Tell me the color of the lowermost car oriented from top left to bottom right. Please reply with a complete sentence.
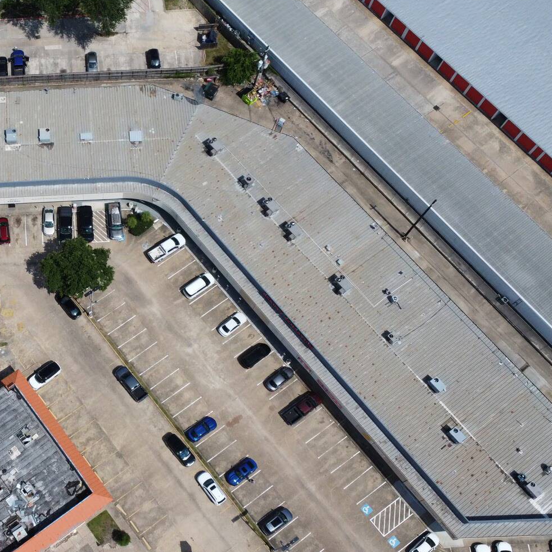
The lowermost car oriented from top left to bottom right looks white in the image.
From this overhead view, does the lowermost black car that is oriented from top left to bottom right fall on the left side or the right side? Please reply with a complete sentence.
The lowermost black car that is oriented from top left to bottom right sits on the left side.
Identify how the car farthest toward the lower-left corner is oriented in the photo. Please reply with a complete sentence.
In this picture, the car farthest toward the lower-left corner is oriented at an angle.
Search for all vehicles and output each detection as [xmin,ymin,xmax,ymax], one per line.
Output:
[226,458,257,486]
[57,293,81,319]
[0,218,10,245]
[29,362,62,389]
[181,273,214,298]
[112,365,150,404]
[281,393,322,424]
[147,234,185,262]
[196,471,226,506]
[406,532,440,552]
[185,417,216,442]
[473,545,489,552]
[85,52,97,72]
[42,208,54,236]
[494,543,512,552]
[164,433,194,465]
[263,367,295,391]
[0,57,7,76]
[237,344,270,368]
[146,48,160,69]
[216,313,246,336]
[57,207,72,242]
[8,49,28,79]
[257,507,292,535]
[107,203,123,238]
[79,208,93,239]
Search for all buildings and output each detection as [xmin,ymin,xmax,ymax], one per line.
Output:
[206,0,552,346]
[0,371,112,552]
[0,84,552,541]
[353,0,552,182]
